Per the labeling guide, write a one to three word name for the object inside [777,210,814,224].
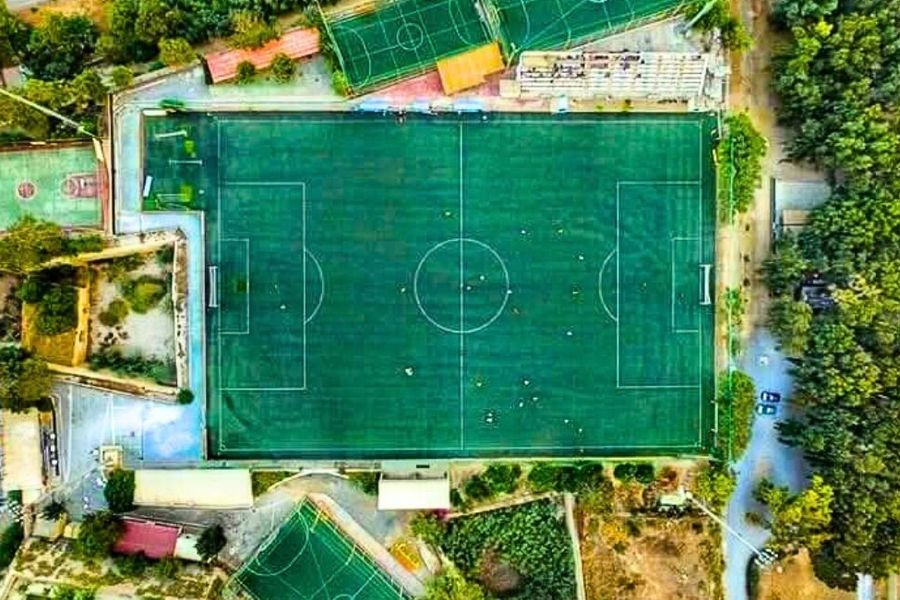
shed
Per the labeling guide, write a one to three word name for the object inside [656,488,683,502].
building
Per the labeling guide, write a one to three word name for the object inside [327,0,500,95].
sports court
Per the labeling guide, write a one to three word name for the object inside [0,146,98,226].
basketball court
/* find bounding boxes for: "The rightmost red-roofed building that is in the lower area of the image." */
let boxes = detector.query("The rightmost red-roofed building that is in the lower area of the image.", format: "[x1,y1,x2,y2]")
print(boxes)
[114,512,185,560]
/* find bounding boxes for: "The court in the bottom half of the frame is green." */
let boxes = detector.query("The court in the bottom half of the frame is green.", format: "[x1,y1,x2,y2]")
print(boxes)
[225,496,413,600]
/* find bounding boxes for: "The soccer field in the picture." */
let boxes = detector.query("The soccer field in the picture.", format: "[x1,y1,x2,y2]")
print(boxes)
[146,115,717,460]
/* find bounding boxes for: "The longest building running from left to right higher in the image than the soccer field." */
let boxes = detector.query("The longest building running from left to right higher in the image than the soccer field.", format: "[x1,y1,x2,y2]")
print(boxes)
[205,28,323,88]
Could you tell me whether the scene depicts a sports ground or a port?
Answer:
sports ground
